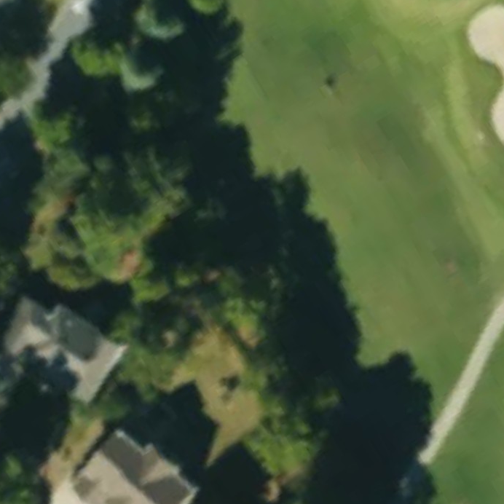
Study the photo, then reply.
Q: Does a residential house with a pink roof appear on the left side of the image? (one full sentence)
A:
No, on the left side of the image there is no residential house with a pink roof.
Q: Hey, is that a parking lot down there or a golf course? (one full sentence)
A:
The area seen from above is a golf course.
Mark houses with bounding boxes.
[1,297,125,403]
[73,427,193,504]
